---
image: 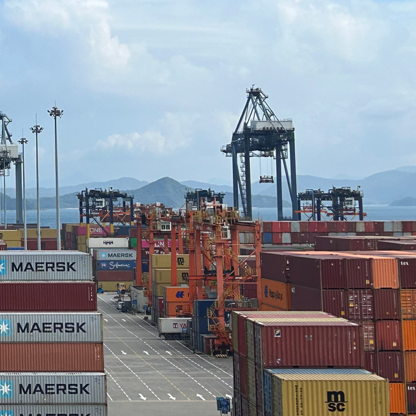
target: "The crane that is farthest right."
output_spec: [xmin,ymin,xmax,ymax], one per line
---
[315,183,370,222]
